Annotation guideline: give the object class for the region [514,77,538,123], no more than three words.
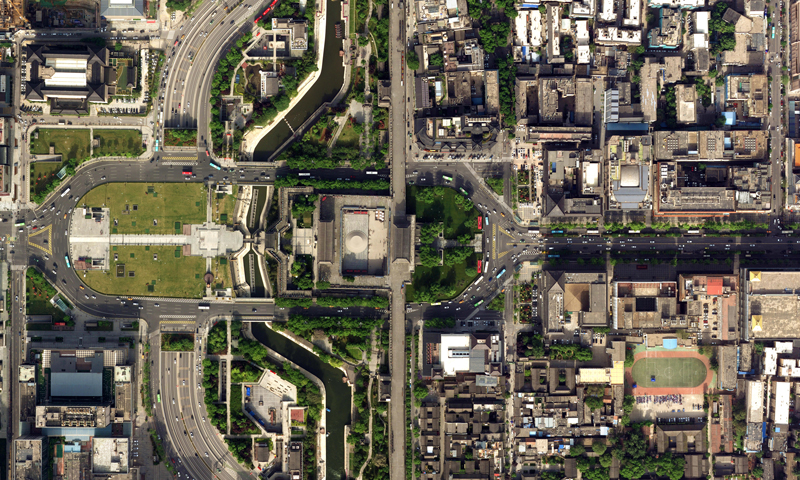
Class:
building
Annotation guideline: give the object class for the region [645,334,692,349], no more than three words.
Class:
building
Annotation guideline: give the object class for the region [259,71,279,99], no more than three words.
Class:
house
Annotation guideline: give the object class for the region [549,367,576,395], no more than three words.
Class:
house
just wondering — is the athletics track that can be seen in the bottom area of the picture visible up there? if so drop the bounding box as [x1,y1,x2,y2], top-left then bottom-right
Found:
[626,351,714,396]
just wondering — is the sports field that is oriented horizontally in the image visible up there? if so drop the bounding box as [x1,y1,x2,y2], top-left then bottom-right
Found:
[632,358,707,387]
